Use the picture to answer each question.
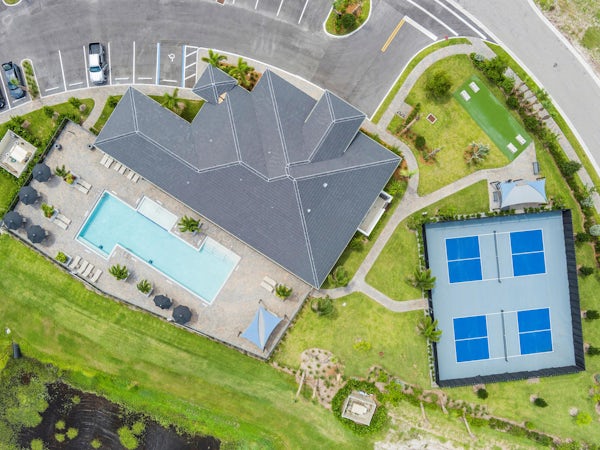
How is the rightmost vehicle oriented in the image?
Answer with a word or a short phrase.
vertically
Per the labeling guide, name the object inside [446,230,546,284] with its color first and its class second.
blue sports court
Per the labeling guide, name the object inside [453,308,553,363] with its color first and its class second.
blue sports court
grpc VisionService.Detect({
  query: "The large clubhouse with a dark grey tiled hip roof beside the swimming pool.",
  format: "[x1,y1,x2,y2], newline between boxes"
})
[93,62,402,288]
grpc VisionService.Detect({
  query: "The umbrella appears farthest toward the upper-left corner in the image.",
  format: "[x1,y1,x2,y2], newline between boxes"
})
[32,163,53,182]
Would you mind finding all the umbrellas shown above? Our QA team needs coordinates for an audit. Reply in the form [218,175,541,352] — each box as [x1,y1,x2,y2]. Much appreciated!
[26,225,47,244]
[154,295,171,310]
[19,186,40,205]
[32,163,53,182]
[5,212,26,230]
[172,305,191,324]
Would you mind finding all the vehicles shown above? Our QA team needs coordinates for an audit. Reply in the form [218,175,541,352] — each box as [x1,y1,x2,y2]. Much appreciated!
[2,63,28,100]
[0,89,6,107]
[88,41,108,86]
